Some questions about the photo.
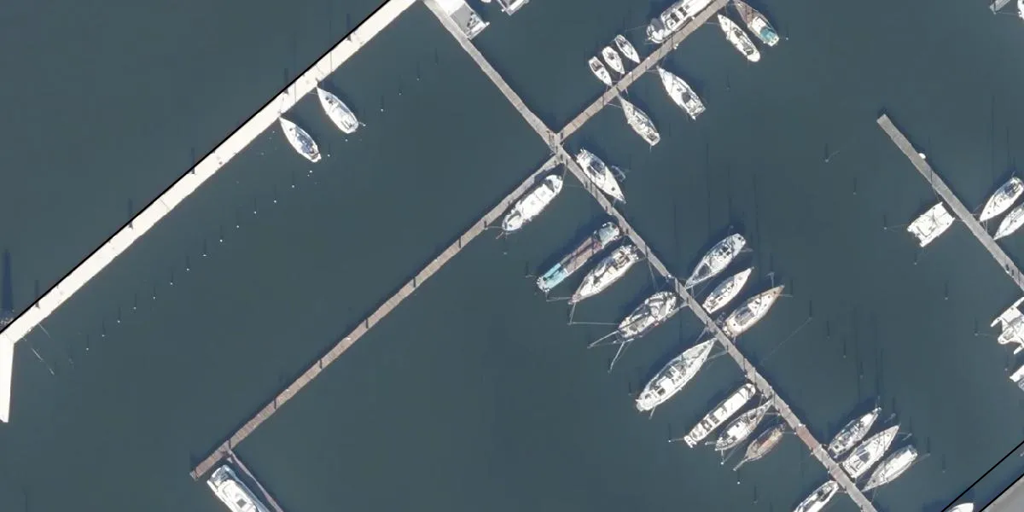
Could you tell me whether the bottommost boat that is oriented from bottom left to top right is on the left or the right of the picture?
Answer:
right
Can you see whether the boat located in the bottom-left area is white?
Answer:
Yes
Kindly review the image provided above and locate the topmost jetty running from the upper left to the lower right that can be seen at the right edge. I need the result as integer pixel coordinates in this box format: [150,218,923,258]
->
[877,115,1024,290]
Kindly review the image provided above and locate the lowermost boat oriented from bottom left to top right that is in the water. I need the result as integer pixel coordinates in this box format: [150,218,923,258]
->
[794,479,846,512]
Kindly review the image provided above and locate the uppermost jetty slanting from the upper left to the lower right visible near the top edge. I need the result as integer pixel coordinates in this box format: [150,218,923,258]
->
[424,0,557,145]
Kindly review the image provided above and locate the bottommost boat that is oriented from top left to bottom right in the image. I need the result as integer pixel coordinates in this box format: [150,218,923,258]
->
[206,464,273,512]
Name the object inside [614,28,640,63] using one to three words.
boat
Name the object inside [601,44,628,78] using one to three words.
boat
